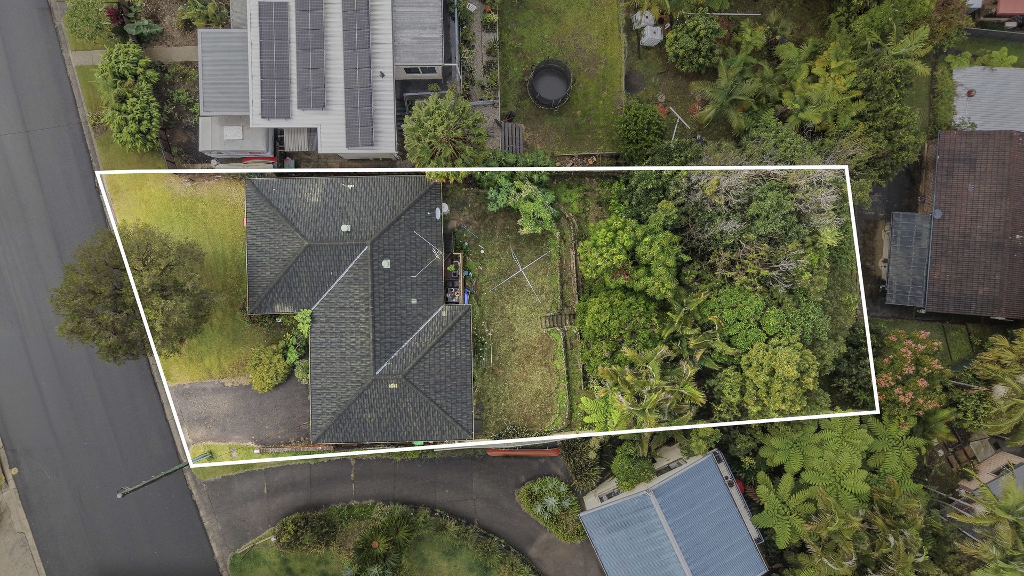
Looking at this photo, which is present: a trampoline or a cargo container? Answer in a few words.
trampoline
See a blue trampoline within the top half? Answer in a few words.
No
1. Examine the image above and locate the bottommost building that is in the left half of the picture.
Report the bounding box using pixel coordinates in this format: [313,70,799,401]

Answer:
[243,174,475,446]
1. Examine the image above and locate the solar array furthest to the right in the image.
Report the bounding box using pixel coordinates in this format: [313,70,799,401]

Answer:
[342,0,373,150]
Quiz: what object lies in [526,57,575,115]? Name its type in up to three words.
trampoline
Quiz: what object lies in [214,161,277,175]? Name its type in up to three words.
boat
